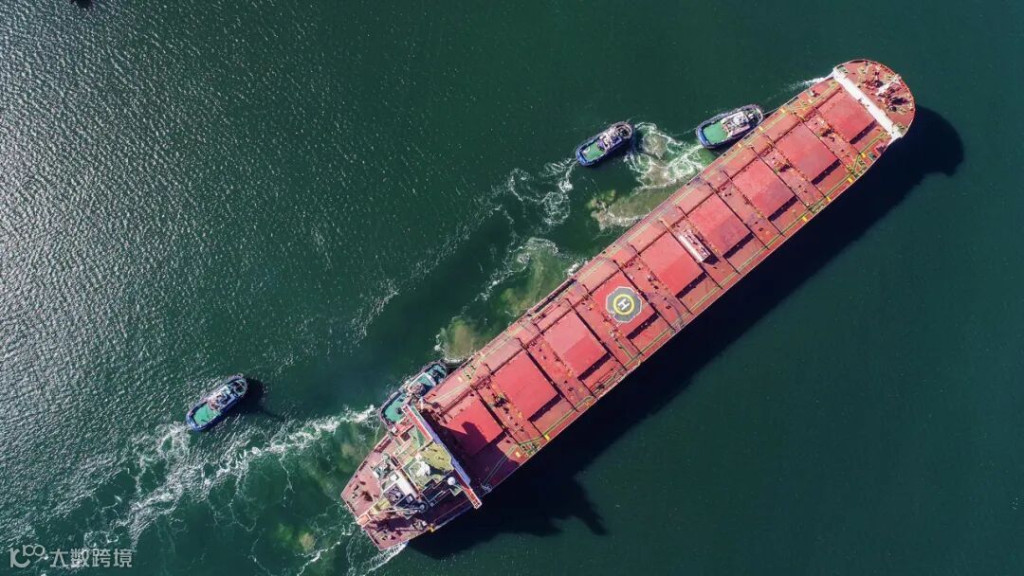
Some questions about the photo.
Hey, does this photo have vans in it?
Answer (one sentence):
No, there is no van in the image.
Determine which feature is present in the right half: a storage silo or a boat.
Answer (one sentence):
There is a boat in the right half.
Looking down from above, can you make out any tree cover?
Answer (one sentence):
No, the picture contains no tree cover.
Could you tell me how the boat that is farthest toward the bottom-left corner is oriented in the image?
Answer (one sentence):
In this picture, the boat that is farthest toward the bottom-left corner lies diagonally.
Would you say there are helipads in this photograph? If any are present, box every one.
[606,288,641,323]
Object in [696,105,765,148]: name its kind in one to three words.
boat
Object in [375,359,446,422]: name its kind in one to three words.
boat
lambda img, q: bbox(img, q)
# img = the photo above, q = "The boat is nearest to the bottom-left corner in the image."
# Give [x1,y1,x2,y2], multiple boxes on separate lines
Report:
[183,377,248,432]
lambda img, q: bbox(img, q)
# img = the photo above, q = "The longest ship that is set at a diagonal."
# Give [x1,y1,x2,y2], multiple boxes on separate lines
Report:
[342,57,916,549]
